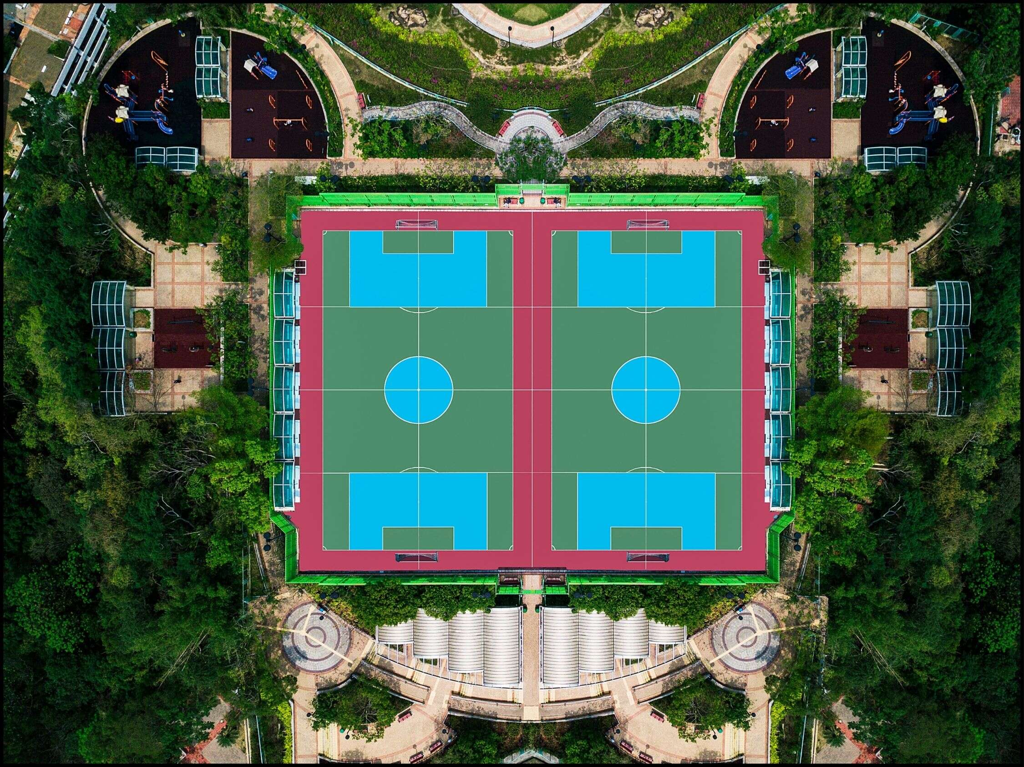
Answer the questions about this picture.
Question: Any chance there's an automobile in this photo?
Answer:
No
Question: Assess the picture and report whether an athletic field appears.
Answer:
Yes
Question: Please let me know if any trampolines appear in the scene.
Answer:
No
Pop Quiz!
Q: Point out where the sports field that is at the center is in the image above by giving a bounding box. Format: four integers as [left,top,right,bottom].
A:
[323,231,742,550]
